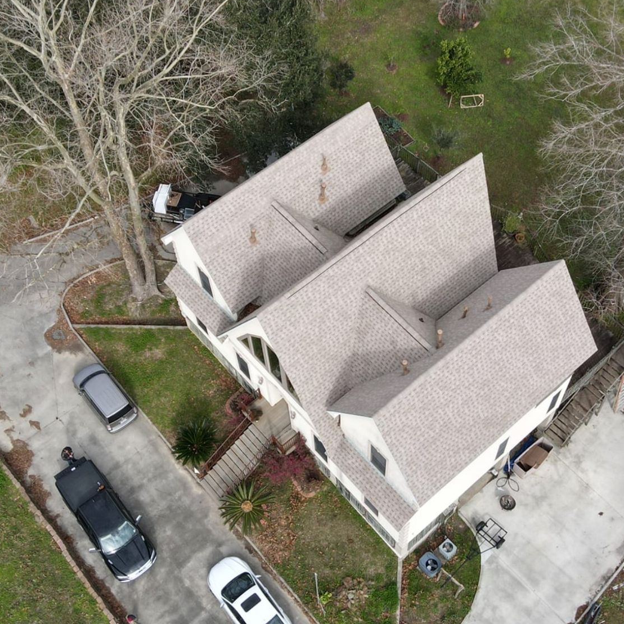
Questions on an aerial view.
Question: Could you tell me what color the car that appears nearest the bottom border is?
white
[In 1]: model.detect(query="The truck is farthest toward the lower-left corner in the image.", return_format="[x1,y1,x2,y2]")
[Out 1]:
[53,452,156,581]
